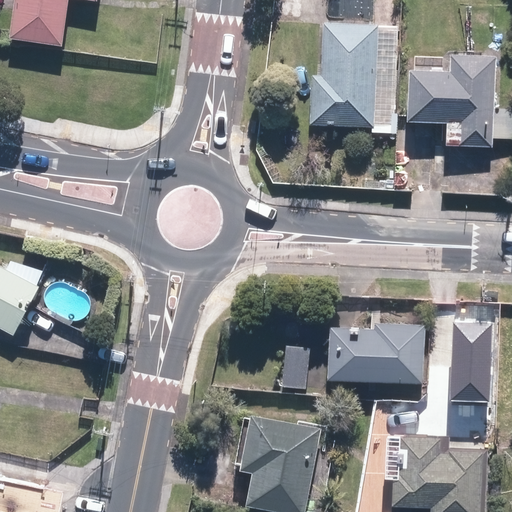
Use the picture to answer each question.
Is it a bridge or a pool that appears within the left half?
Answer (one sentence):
What appears within the left half is a pool.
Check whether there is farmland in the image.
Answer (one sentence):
No, farmland can't be seen anywhere here.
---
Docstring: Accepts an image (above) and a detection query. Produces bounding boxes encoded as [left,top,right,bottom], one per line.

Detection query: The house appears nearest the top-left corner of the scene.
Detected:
[10,0,69,47]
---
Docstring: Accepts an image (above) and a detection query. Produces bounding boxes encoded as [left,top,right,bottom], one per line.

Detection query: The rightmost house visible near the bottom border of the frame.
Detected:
[392,436,488,512]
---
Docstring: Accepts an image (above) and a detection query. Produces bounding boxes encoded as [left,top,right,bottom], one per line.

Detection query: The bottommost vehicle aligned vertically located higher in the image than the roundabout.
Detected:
[213,112,228,145]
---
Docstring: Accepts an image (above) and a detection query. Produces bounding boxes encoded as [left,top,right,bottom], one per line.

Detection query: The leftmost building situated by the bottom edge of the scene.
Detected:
[234,416,326,512]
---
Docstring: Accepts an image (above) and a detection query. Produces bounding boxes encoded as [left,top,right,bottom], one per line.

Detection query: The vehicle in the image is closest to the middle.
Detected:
[244,200,277,222]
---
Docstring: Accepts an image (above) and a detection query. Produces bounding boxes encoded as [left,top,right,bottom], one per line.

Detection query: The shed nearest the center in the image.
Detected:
[280,346,310,390]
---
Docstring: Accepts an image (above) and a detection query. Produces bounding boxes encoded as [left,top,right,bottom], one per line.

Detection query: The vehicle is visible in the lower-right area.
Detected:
[388,414,420,429]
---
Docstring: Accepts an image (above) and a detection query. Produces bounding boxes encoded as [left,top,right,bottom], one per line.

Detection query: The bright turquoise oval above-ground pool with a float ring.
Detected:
[44,282,90,322]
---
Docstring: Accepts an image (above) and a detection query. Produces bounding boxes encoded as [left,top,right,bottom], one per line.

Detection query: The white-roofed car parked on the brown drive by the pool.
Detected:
[26,311,54,332]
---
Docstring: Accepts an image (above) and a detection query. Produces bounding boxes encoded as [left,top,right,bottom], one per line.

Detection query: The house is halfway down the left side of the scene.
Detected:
[0,261,42,336]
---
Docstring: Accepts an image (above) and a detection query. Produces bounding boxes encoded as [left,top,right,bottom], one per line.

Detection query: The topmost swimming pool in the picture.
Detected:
[328,0,374,20]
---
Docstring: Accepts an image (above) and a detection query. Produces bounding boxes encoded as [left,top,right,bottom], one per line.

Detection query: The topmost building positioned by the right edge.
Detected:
[406,54,496,148]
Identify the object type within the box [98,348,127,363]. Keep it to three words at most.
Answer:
car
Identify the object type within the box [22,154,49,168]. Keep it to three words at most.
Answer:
vehicle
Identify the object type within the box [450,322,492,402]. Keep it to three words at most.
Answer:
house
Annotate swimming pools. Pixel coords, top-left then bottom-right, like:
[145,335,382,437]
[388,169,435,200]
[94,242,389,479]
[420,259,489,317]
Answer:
[44,282,90,322]
[328,0,374,20]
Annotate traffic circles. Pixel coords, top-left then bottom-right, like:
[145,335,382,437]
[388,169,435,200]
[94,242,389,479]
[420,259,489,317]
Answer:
[157,184,224,251]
